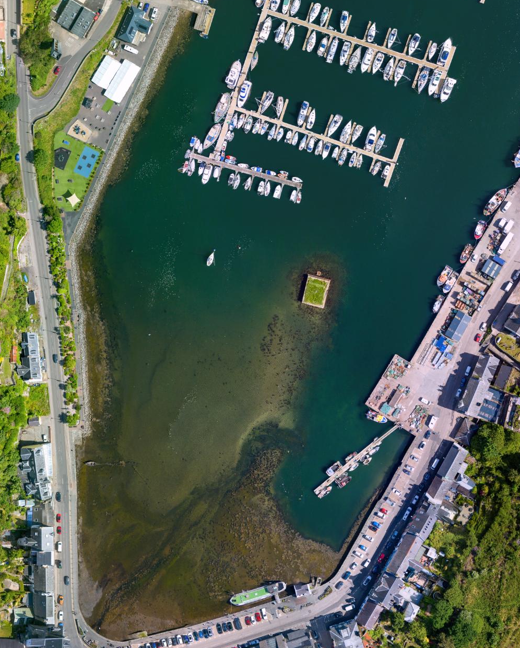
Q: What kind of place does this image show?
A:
port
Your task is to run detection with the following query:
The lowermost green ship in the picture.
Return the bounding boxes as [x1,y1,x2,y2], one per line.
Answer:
[230,581,287,603]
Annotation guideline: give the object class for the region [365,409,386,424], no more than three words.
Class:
boat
